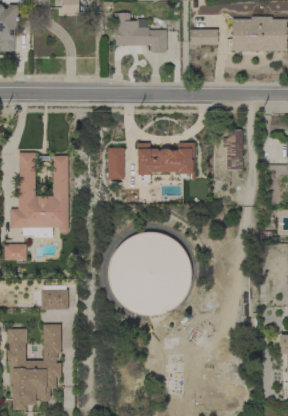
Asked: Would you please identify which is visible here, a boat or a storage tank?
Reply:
storage tank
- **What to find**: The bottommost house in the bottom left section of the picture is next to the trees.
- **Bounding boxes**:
[8,324,62,410]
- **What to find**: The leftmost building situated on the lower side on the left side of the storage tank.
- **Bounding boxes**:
[4,243,26,260]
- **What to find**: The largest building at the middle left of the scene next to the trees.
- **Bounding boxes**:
[11,151,70,232]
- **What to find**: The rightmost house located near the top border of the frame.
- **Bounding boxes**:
[233,16,288,50]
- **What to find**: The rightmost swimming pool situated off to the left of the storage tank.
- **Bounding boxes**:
[35,242,60,258]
